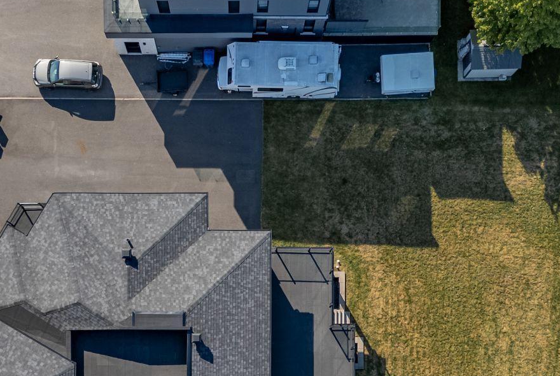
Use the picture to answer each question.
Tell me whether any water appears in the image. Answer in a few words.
No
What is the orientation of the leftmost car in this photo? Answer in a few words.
from left to right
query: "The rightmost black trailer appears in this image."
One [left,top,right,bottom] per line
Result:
[139,68,187,98]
